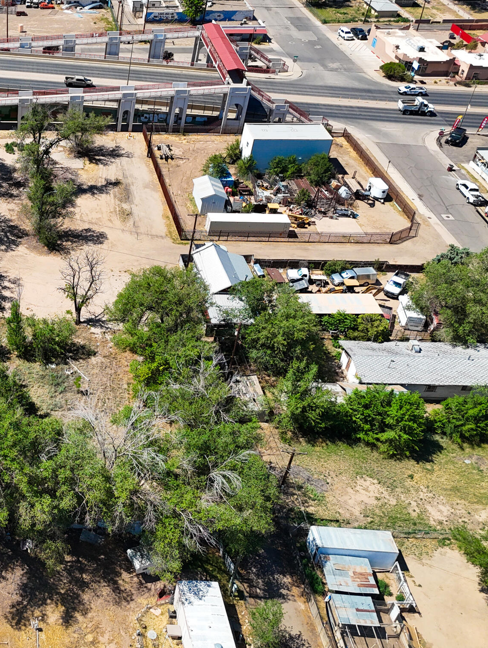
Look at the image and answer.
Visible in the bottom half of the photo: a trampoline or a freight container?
freight container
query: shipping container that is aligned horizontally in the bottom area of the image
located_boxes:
[304,526,399,569]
